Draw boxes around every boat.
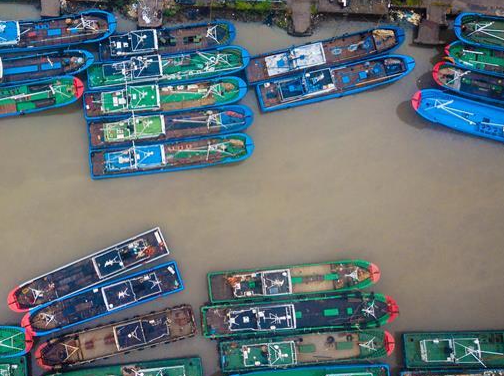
[88,107,254,150]
[208,260,382,301]
[34,307,196,365]
[0,325,36,357]
[398,330,504,367]
[22,262,184,334]
[453,15,504,54]
[41,358,203,376]
[432,63,504,106]
[0,51,95,87]
[99,25,238,63]
[199,294,402,338]
[223,363,390,376]
[87,48,252,92]
[412,92,504,145]
[444,43,504,81]
[245,30,406,87]
[0,14,118,54]
[255,55,417,113]
[216,330,398,372]
[91,137,256,179]
[84,79,249,121]
[6,228,171,306]
[0,76,87,117]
